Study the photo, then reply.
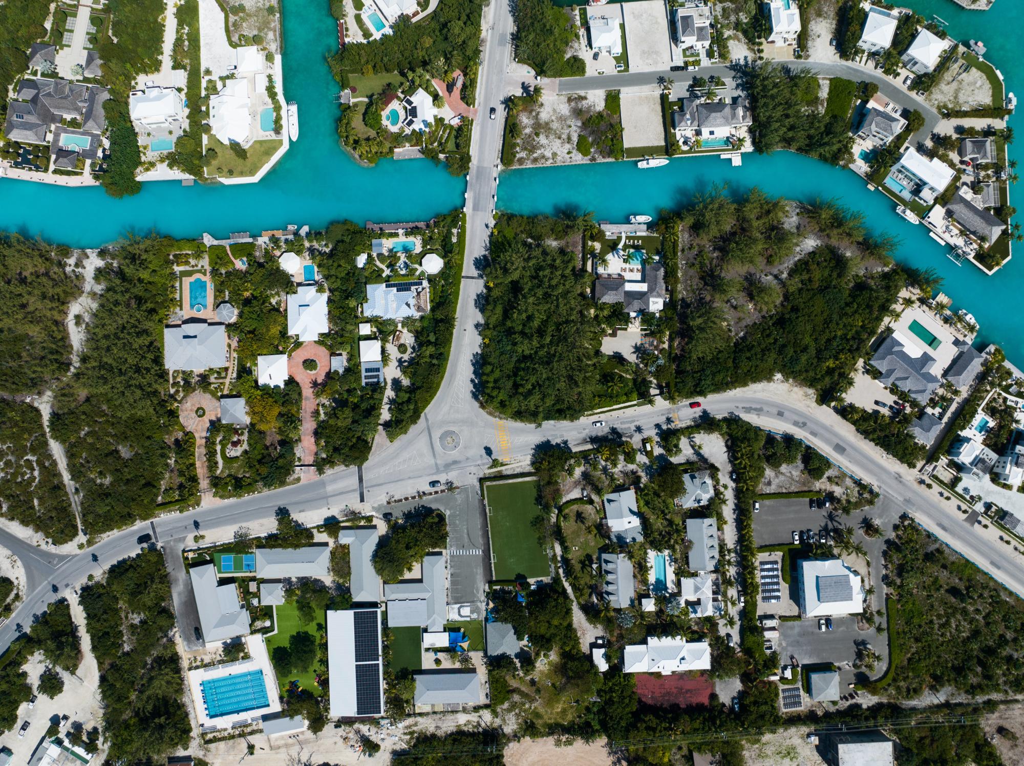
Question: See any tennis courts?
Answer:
Yes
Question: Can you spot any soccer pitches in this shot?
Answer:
Yes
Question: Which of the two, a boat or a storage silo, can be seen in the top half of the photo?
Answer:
boat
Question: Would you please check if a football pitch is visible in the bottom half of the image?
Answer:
Yes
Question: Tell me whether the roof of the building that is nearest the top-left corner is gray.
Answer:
Yes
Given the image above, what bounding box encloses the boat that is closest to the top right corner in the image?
[970,40,987,56]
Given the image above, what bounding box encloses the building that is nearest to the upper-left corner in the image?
[28,42,61,69]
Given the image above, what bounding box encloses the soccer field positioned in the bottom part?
[485,480,550,581]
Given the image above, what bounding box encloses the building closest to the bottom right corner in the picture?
[827,730,894,766]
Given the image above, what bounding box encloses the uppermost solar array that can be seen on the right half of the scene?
[760,558,786,602]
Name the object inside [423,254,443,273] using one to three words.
gazebo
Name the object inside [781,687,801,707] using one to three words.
solar array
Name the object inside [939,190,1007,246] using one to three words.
house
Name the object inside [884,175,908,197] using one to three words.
swimming pool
